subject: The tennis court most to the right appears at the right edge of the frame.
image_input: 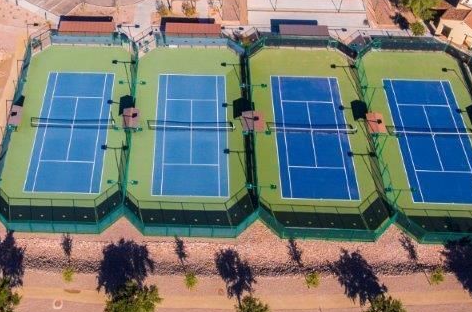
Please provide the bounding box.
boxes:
[355,50,472,247]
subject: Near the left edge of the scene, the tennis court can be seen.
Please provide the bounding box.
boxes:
[0,44,139,236]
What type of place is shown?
sports ground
